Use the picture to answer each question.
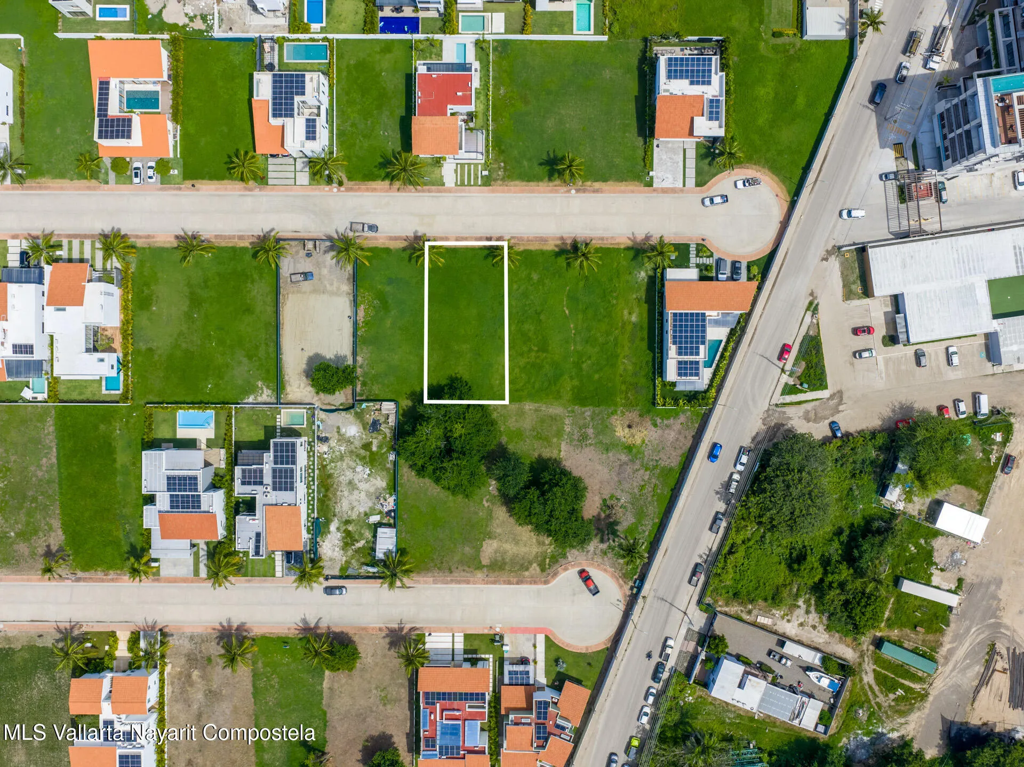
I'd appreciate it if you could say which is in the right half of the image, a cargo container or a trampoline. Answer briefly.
cargo container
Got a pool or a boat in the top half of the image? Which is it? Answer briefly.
pool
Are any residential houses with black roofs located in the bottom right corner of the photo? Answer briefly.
No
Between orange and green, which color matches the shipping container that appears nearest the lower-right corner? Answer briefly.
green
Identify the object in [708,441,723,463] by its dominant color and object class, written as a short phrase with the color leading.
blue car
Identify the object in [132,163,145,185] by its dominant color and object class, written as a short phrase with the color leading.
white vehicle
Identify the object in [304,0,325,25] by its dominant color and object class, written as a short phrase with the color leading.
blue swimming pool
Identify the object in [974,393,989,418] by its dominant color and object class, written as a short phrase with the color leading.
white vehicle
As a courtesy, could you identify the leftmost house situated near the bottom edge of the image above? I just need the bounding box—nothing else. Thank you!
[68,667,160,767]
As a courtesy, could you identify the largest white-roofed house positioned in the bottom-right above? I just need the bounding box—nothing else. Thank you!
[706,654,799,721]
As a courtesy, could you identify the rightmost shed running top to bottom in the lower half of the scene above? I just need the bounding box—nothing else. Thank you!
[878,458,907,503]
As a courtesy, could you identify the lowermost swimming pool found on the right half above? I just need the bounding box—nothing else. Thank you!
[702,338,724,369]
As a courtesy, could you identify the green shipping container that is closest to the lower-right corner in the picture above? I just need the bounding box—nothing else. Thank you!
[875,636,938,674]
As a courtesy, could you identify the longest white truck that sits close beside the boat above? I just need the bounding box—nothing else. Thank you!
[778,638,822,665]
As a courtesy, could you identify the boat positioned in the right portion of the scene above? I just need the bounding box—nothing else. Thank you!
[803,669,848,699]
